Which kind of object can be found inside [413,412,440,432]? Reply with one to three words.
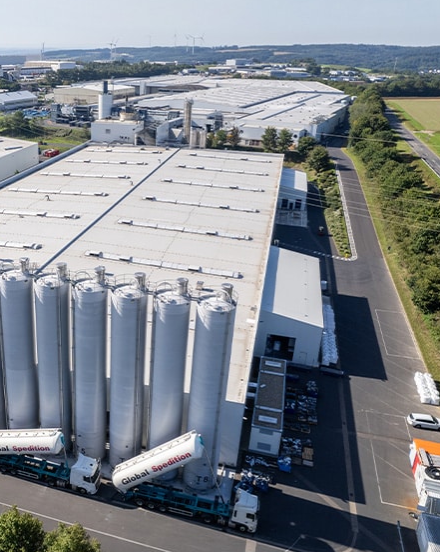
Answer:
car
